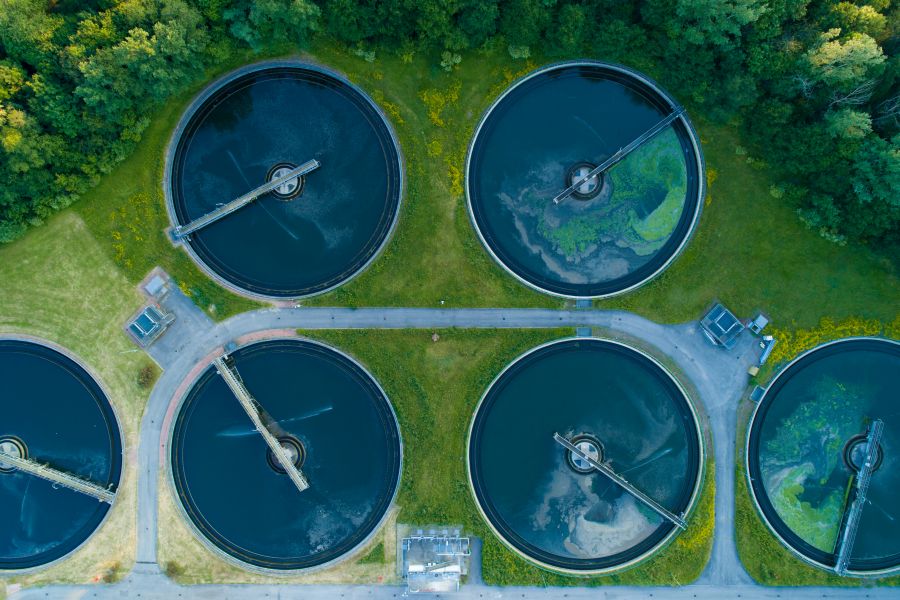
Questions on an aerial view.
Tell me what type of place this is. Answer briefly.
industrial area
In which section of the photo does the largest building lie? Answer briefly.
bottom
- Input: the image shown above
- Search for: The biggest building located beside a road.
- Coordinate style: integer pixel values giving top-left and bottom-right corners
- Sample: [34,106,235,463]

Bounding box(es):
[403,531,469,592]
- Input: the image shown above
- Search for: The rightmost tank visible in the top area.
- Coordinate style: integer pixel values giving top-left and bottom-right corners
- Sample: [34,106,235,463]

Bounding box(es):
[463,59,707,302]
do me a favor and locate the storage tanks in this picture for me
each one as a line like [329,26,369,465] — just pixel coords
[463,59,707,302]
[169,335,406,572]
[0,334,127,575]
[164,61,405,301]
[463,333,707,576]
[739,332,900,577]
